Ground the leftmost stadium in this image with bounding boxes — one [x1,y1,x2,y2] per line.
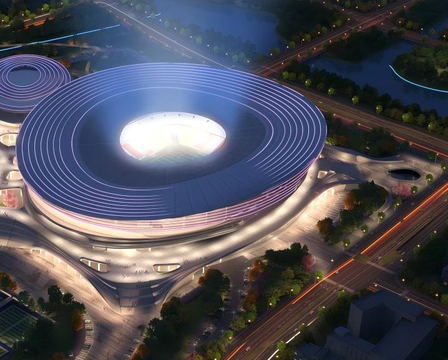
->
[0,54,70,124]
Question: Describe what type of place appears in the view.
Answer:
sports ground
